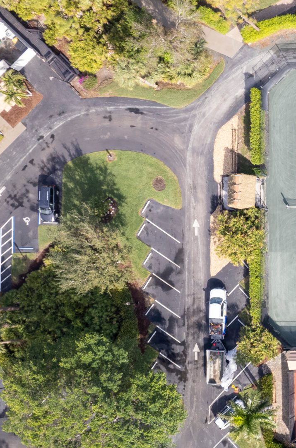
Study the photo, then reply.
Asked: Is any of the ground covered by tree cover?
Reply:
Yes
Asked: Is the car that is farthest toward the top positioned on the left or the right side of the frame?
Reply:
left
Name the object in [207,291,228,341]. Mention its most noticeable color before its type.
white vehicle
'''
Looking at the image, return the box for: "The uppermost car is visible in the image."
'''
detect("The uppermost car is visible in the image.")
[37,184,58,223]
